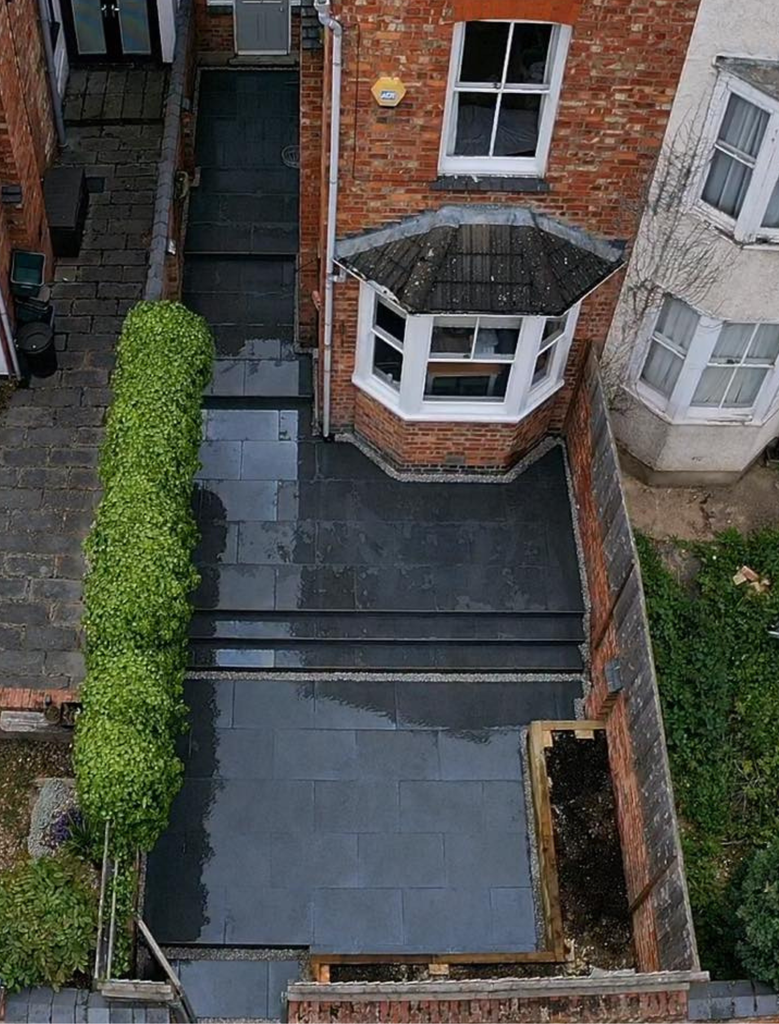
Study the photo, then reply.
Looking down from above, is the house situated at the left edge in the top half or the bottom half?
top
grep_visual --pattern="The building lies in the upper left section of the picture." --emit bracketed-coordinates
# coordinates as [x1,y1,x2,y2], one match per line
[0,0,179,377]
